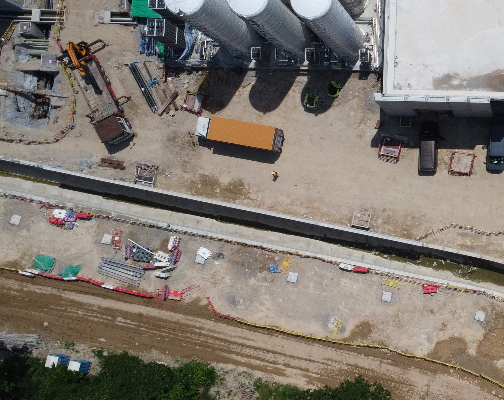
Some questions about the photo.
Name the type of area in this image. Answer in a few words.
industrial area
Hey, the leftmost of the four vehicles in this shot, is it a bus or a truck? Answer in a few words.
truck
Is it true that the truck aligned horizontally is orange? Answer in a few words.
Yes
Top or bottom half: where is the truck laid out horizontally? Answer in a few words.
top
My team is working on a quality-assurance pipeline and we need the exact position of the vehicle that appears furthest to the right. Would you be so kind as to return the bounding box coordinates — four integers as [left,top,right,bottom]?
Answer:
[484,124,504,173]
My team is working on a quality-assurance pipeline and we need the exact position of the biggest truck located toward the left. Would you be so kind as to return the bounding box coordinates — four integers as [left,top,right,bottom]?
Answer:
[51,44,131,146]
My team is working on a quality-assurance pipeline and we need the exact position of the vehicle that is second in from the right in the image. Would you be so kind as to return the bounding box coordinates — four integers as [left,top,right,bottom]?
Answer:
[415,124,443,173]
